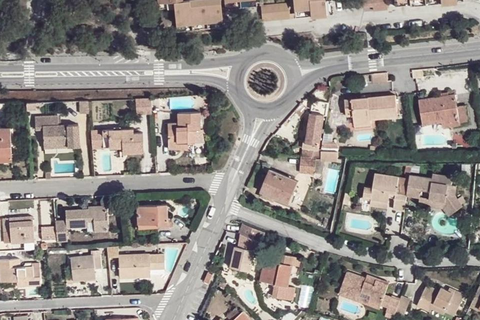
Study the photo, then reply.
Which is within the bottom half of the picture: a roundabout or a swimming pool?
swimming pool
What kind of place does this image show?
residential area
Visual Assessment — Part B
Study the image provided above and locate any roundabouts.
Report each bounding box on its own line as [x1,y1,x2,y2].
[228,44,302,118]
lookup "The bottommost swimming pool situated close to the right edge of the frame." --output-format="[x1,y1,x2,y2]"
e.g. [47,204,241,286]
[432,212,456,236]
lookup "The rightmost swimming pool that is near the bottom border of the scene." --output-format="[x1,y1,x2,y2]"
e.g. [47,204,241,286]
[340,299,364,314]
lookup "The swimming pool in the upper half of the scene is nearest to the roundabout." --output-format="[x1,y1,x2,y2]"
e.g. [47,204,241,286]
[169,96,194,110]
